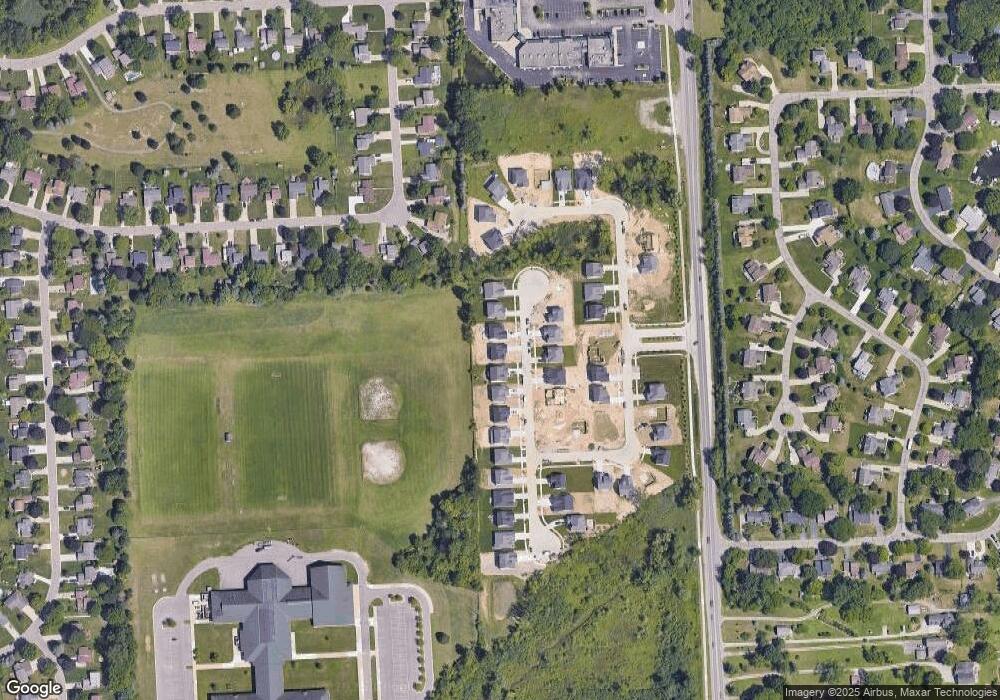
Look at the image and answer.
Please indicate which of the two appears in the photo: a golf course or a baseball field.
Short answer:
baseball field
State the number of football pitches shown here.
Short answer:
2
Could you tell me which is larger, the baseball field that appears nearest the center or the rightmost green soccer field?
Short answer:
the soccer field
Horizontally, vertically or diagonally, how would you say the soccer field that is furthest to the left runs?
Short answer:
vertically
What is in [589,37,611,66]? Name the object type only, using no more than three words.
building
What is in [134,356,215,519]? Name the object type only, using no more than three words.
soccer field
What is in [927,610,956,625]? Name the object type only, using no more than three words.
house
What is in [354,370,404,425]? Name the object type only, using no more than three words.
baseball field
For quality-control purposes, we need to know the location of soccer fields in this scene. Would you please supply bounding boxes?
[134,356,215,519]
[233,354,338,512]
